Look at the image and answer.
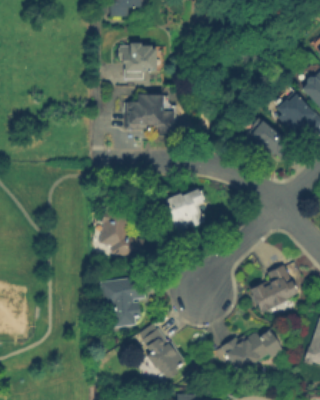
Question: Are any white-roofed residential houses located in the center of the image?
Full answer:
Yes, a white-roofed residential house appears in the center of the image.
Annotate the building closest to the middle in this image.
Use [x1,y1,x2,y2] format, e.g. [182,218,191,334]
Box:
[166,186,206,226]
